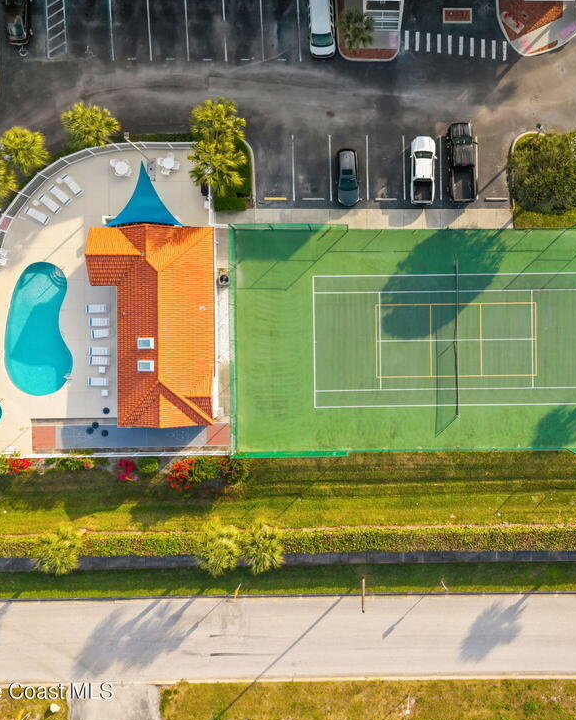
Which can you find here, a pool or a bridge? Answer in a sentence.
Looking from above, you can make out a pool.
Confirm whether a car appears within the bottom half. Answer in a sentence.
No, looking within the bottom half, there is no car.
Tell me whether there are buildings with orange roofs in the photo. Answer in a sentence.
Yes, a building with an orange roof is visible in the scene.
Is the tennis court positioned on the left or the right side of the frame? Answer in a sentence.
The tennis court sits on the right side.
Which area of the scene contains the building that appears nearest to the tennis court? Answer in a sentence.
The building that appears nearest to the tennis court is in the left part of the image.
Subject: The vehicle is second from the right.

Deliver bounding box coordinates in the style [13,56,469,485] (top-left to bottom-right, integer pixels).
[409,136,438,205]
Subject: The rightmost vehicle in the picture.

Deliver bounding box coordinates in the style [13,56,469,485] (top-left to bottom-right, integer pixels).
[447,123,478,204]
